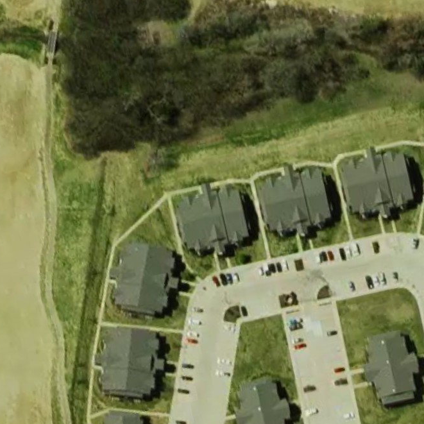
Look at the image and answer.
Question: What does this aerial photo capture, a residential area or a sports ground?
residential area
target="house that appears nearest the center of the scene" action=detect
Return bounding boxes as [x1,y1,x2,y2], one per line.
[175,183,249,254]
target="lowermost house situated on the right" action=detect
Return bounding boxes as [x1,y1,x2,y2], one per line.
[229,387,300,424]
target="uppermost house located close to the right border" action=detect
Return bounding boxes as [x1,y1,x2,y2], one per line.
[339,148,413,219]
